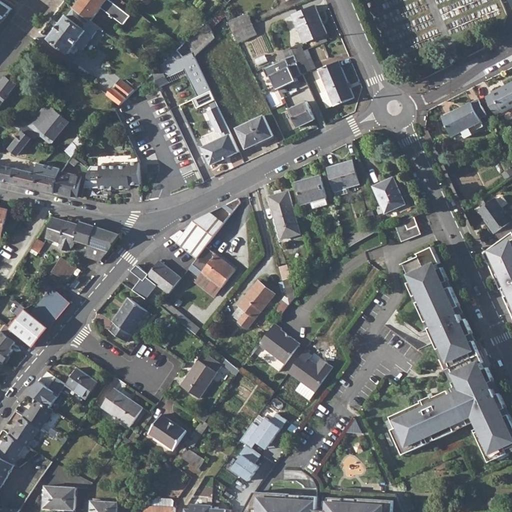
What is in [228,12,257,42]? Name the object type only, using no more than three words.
building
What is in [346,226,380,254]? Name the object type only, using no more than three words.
shed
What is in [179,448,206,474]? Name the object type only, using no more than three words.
barn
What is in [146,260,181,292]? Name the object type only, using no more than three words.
house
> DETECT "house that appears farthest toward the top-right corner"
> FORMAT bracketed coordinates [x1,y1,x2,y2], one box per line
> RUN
[481,78,512,116]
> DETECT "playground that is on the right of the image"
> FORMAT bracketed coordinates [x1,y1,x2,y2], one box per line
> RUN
[342,454,367,479]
